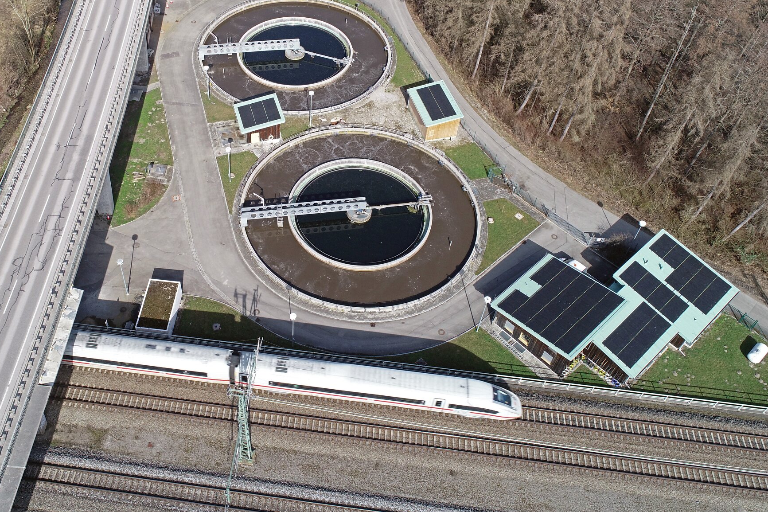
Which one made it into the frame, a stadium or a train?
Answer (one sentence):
It is a train that can be seen here.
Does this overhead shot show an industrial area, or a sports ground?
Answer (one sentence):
This image shows an industrial area.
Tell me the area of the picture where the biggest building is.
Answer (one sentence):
You can find the biggest building in the right area of the picture.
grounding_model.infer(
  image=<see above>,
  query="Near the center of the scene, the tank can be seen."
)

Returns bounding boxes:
[239,123,482,312]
